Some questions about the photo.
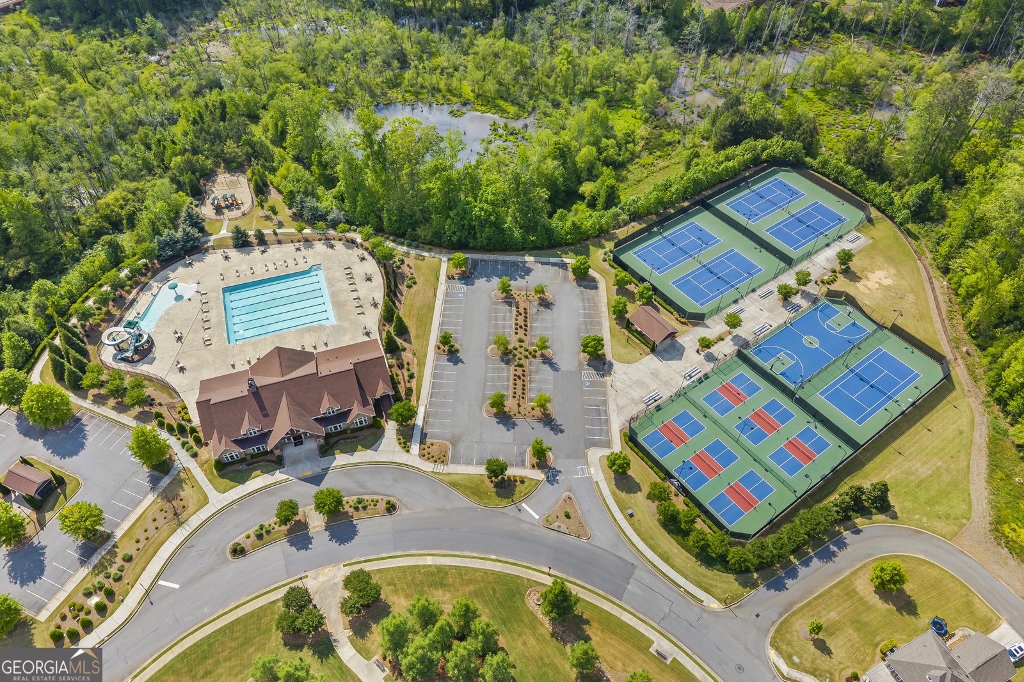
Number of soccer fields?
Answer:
none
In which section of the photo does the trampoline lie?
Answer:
bottom right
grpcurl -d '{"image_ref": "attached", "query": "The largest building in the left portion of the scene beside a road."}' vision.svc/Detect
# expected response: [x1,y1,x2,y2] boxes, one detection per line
[196,339,395,462]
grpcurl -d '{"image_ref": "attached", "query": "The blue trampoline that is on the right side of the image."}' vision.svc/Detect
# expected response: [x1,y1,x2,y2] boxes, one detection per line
[928,615,953,636]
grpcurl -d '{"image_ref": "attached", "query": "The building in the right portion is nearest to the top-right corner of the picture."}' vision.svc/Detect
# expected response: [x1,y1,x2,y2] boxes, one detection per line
[629,306,679,351]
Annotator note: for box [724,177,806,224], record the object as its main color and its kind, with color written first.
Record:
blue tennis court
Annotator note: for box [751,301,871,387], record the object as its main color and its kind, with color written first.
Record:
blue basketball court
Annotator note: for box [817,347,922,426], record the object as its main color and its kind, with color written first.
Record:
blue tennis court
